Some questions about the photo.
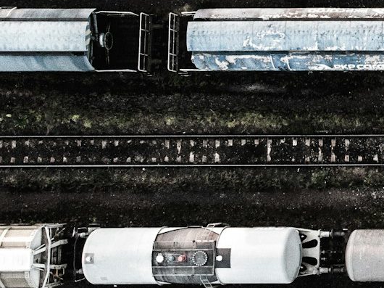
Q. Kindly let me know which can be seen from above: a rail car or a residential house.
rail car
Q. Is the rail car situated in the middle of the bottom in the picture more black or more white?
white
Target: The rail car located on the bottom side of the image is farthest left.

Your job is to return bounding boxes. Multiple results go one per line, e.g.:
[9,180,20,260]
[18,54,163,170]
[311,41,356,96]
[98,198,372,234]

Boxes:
[0,219,85,288]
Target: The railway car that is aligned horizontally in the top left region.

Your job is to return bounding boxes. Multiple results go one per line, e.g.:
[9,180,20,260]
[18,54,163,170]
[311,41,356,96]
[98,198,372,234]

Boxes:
[0,7,176,76]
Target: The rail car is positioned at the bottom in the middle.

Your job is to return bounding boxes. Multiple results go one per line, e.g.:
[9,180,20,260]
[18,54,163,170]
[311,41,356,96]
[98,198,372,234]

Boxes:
[65,221,331,288]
